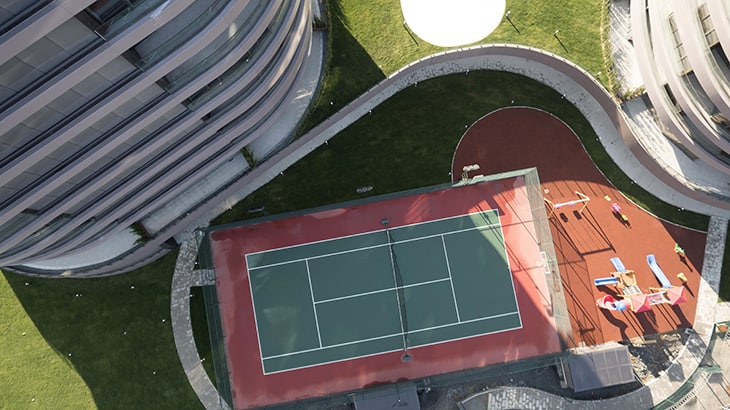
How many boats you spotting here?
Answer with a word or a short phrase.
zero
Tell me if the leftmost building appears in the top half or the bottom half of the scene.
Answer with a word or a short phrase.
top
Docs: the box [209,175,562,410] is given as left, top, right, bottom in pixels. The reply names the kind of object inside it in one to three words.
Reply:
tennis court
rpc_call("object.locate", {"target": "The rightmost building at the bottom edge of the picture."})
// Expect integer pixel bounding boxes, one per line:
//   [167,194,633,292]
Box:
[555,343,636,391]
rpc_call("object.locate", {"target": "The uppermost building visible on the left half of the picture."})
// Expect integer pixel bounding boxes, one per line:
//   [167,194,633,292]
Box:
[0,0,318,270]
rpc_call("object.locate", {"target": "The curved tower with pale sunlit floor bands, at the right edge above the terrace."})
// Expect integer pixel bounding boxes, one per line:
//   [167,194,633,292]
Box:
[624,0,730,175]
